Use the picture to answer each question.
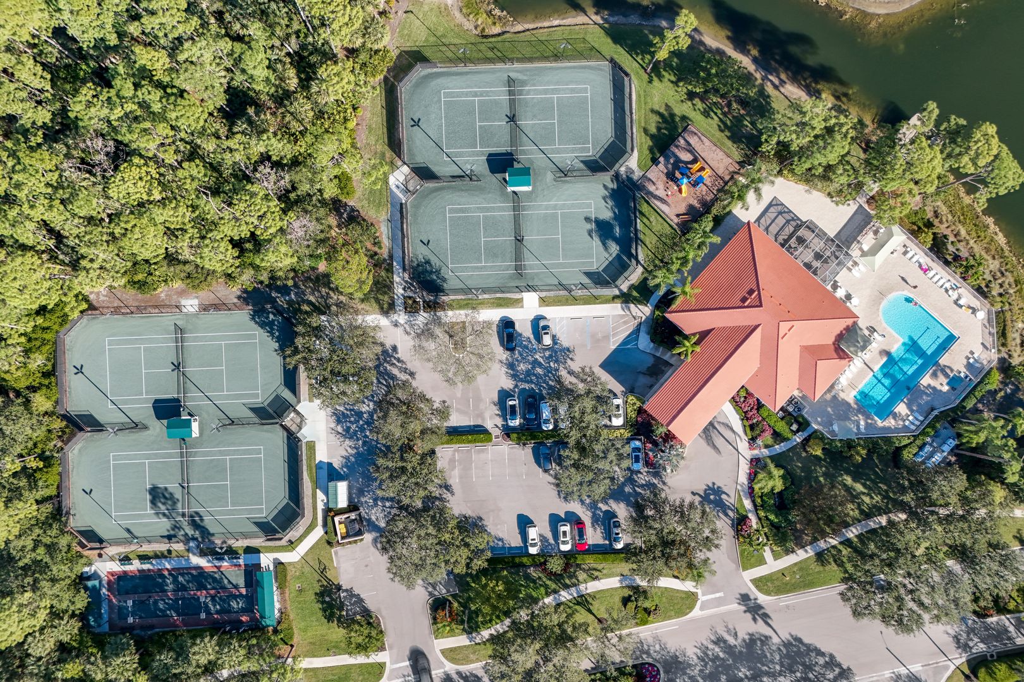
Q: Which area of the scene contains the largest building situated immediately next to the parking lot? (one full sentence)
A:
The largest building situated immediately next to the parking lot is located in the right region of the scene.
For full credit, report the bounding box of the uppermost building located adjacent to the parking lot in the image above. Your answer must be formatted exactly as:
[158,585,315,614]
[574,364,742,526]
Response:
[643,219,859,447]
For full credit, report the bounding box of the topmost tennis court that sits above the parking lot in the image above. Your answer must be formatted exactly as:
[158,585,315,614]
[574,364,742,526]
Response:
[401,61,631,182]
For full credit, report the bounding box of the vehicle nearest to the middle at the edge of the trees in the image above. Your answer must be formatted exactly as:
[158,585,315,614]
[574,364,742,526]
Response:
[503,320,516,350]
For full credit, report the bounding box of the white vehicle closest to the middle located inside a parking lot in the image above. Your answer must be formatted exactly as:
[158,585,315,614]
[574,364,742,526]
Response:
[539,318,553,348]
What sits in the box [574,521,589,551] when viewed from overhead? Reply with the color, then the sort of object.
red car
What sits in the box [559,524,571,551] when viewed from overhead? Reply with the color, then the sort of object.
white vehicle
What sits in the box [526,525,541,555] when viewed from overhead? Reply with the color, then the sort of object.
white car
